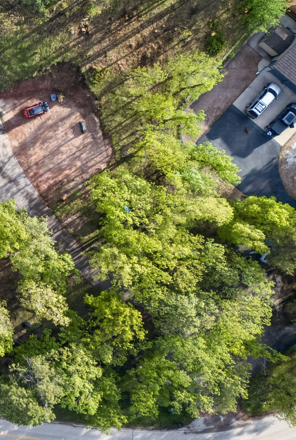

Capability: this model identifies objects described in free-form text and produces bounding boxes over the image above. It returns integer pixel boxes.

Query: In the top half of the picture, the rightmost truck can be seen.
[265,98,296,141]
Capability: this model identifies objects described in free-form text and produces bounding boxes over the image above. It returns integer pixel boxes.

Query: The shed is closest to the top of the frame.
[255,26,294,58]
